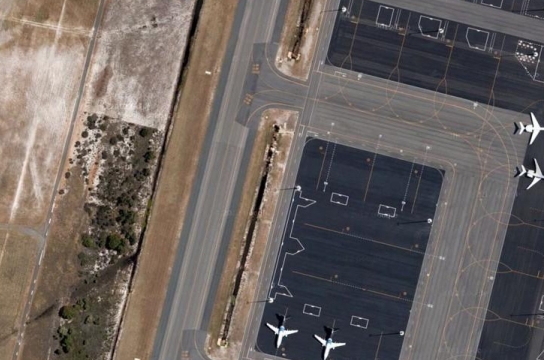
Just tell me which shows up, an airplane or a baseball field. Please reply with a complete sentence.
Looking from above, you can make out an airplane.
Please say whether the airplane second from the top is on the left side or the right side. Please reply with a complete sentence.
The airplane second from the top sits on the right side.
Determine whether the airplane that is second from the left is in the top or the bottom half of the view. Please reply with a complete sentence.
Seen from above, the airplane that is second from the left lies in the bottom half of the view.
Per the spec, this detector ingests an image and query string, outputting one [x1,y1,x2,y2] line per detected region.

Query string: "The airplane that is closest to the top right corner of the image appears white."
[520,113,544,144]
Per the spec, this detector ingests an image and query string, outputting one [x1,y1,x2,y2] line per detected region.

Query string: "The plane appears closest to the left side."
[268,308,299,348]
